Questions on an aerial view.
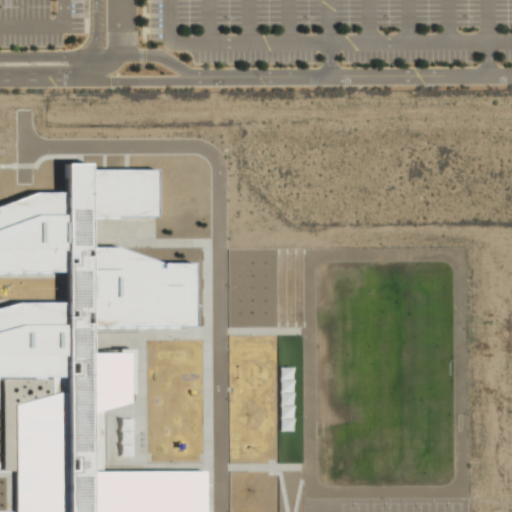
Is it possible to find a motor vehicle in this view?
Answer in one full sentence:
No, there is no motor vehicle in the image.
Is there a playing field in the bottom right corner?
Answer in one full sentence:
Yes, in the bottom right corner there is a playing field.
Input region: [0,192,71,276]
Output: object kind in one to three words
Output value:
building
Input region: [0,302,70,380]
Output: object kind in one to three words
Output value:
building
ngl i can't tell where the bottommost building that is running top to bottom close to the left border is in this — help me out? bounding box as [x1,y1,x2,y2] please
[16,392,69,512]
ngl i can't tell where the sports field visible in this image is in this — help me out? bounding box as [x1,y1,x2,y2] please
[317,262,453,486]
